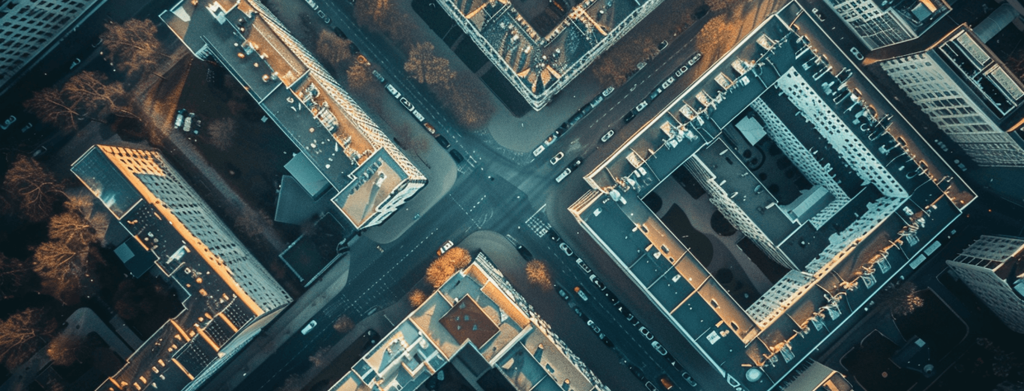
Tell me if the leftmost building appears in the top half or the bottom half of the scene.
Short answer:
top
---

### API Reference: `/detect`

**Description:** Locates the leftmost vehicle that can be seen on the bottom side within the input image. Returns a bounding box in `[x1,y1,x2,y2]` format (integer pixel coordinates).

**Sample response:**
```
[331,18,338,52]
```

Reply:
[299,319,316,336]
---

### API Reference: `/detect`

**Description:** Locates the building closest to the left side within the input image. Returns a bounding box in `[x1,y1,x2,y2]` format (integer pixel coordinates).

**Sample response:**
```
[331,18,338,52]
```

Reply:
[0,0,107,93]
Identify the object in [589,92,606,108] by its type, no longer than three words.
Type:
vehicle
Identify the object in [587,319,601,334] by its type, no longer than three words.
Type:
car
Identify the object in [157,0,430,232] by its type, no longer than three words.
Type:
building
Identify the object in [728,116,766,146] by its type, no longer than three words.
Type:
building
